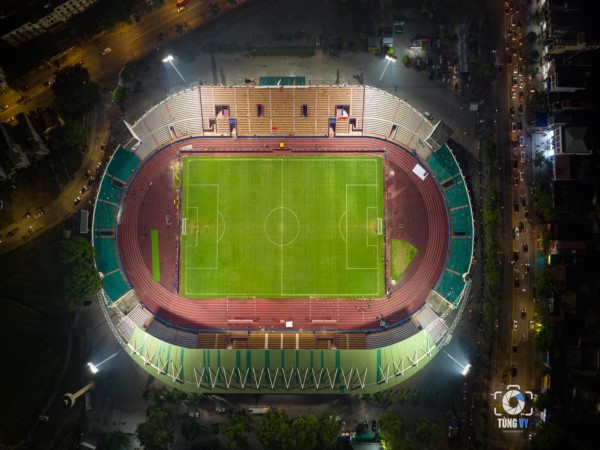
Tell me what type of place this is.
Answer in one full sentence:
It's a sports ground.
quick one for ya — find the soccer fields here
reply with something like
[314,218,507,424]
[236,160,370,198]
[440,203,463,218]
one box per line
[183,154,385,299]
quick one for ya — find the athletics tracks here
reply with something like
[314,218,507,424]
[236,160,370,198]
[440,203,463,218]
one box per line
[118,137,449,331]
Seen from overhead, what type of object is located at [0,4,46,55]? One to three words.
building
